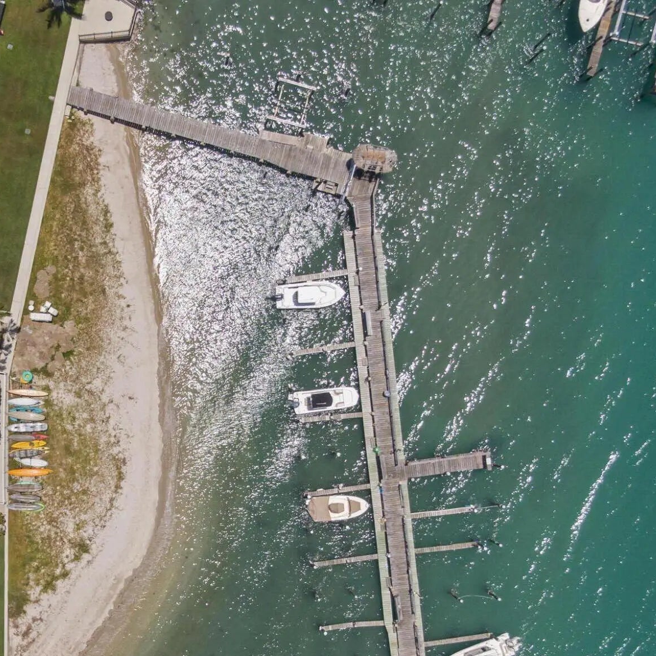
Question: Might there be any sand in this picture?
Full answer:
Yes, there's sand in this view.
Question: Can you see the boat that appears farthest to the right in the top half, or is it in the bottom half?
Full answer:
The boat that appears farthest to the right sits in the top half of the picture.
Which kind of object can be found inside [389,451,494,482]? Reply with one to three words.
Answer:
pier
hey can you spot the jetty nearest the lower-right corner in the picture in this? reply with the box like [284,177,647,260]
[425,629,491,646]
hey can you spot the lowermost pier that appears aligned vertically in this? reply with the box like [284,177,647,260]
[340,230,426,656]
